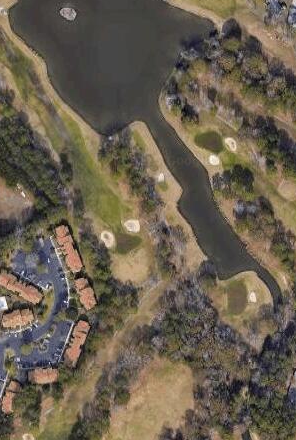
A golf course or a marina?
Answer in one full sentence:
This looks like a golf course.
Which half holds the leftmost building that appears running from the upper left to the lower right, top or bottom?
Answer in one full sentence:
The leftmost building that appears running from the upper left to the lower right sits in the bottom half of the picture.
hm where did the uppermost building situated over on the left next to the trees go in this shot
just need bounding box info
[54,222,84,274]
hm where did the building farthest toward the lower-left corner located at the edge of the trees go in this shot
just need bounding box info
[1,380,23,415]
